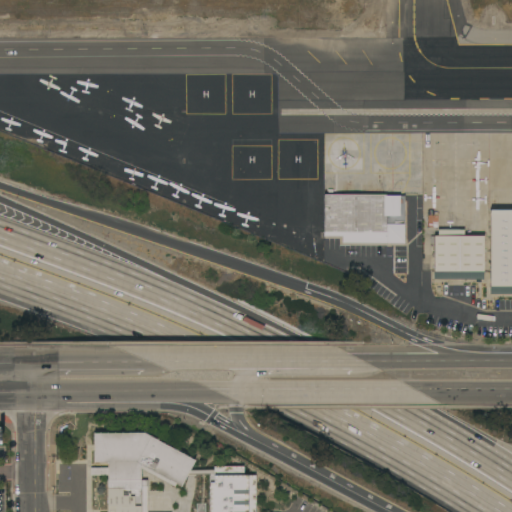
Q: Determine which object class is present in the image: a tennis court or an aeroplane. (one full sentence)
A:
Visible in the photo is an aeroplane.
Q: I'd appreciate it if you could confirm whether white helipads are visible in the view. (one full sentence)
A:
No, this view has no white helipad in it.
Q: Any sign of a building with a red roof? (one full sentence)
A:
No, no building with a red roof is visible in the view.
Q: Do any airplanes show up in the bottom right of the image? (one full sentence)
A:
No, I see no airplane in the bottom right of the image.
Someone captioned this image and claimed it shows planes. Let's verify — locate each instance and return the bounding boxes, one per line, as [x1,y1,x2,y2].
[474,173,488,190]
[474,151,490,172]
[122,96,144,112]
[76,80,98,94]
[39,75,60,90]
[236,210,258,226]
[191,192,213,208]
[124,112,144,130]
[78,146,98,161]
[152,112,172,128]
[54,137,68,152]
[213,202,236,218]
[425,186,439,208]
[147,173,168,190]
[60,87,80,104]
[474,191,487,209]
[0,117,20,130]
[32,128,53,142]
[124,167,144,181]
[169,180,190,198]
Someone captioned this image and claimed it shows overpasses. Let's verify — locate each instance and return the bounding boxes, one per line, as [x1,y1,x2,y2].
[0,341,452,408]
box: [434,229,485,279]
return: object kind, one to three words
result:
hangar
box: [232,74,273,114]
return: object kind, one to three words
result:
helipad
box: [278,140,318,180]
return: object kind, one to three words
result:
helipad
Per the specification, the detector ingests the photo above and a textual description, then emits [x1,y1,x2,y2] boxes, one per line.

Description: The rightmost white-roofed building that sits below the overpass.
[210,466,257,512]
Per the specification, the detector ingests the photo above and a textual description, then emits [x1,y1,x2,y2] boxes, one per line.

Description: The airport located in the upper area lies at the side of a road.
[0,0,512,311]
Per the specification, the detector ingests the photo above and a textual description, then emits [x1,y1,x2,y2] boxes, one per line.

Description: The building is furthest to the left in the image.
[91,432,196,512]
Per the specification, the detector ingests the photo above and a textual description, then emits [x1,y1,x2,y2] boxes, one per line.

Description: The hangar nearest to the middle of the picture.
[323,194,406,244]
